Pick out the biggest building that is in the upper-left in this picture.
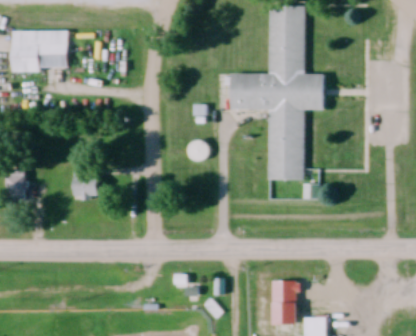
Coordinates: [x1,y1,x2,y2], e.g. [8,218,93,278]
[10,30,68,73]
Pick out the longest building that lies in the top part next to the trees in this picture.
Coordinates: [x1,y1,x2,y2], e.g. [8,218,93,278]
[230,4,324,180]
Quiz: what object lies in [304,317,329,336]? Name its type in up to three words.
shed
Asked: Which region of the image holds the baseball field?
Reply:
bottom left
